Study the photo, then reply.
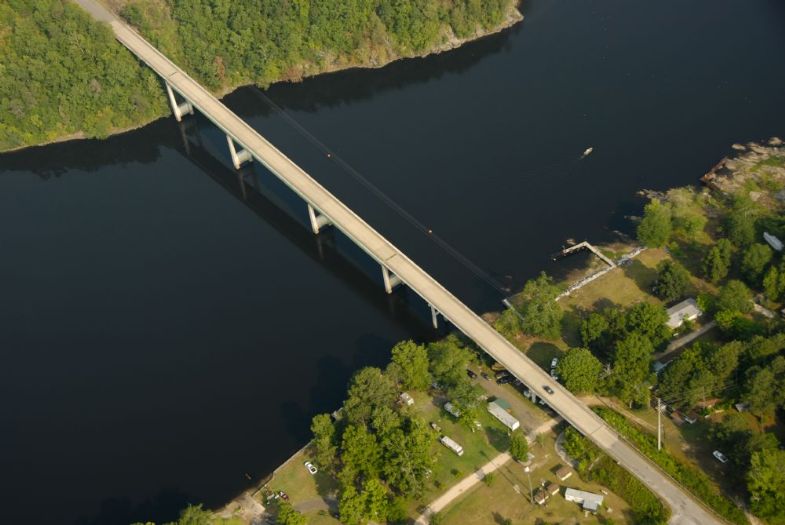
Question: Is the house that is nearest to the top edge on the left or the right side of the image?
right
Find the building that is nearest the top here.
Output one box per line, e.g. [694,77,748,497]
[658,298,704,333]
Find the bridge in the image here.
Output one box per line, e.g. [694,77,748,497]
[107,15,632,460]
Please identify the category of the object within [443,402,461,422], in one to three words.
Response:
camper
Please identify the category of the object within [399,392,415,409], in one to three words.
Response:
camper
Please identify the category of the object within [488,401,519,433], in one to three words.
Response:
house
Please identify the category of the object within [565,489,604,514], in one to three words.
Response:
house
